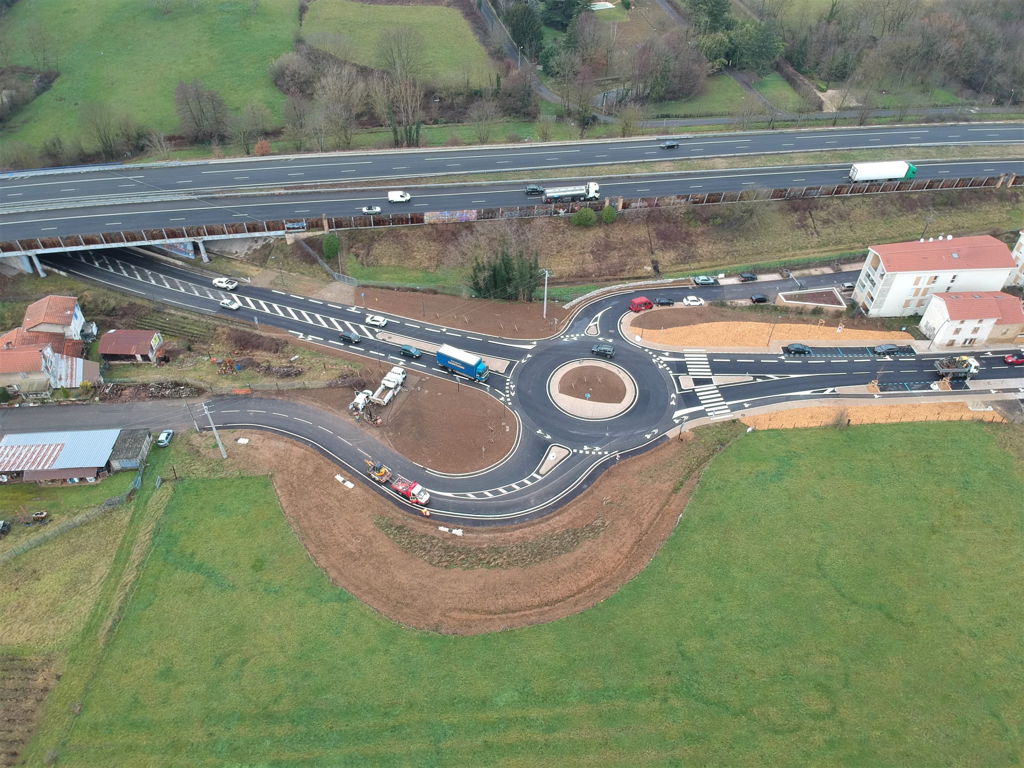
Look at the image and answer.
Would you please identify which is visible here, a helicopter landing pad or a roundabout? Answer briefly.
roundabout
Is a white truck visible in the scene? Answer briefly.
Yes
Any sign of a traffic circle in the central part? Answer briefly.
Yes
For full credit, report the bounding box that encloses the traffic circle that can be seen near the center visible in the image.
[505,334,685,454]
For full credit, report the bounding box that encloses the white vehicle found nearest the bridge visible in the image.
[212,276,236,289]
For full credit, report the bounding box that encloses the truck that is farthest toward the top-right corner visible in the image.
[852,160,919,182]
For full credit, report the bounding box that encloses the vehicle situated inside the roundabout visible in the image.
[591,343,615,357]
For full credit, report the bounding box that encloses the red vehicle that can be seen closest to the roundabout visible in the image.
[630,297,654,312]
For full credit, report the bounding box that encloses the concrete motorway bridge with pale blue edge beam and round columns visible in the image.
[0,172,299,281]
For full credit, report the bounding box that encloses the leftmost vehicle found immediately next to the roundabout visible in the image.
[439,344,491,382]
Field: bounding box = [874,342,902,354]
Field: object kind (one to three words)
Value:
vehicle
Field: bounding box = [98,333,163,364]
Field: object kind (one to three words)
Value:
barn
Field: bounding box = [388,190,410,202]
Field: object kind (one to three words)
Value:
vehicle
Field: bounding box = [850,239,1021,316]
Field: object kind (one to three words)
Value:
building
